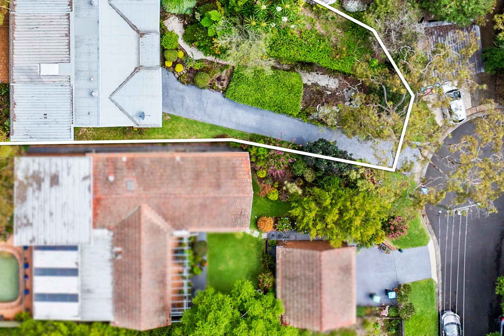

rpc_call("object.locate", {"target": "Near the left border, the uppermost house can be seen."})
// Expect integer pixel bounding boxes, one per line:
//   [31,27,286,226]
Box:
[10,0,162,140]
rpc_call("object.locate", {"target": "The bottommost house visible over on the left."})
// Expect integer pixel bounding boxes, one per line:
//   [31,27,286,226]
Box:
[14,151,254,332]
